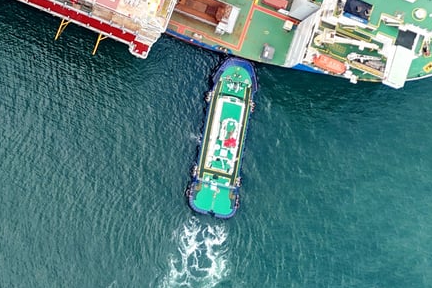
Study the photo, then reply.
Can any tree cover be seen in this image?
No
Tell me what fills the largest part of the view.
water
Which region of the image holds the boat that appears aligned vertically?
center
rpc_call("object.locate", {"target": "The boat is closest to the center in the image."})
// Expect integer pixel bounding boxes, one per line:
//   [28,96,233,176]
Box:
[188,57,261,222]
